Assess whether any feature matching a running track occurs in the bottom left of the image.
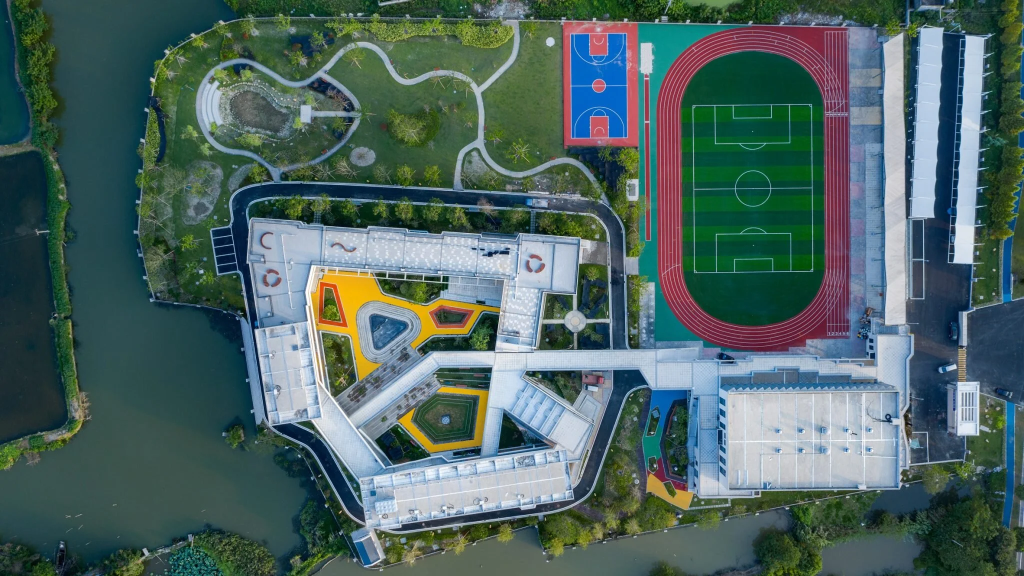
No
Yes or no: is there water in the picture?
Yes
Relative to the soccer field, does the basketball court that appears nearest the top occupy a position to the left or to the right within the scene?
on the left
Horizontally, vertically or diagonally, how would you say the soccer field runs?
vertically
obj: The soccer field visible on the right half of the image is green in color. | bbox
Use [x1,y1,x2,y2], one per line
[682,52,824,326]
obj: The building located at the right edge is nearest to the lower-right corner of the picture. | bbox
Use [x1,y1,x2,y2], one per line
[947,382,980,435]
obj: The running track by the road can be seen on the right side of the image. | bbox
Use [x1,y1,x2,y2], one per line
[656,26,850,352]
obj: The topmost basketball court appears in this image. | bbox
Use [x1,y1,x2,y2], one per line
[564,23,639,146]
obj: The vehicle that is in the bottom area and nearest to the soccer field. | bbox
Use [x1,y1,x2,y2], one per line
[718,351,736,363]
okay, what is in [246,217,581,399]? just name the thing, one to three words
building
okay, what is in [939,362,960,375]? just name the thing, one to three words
vehicle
